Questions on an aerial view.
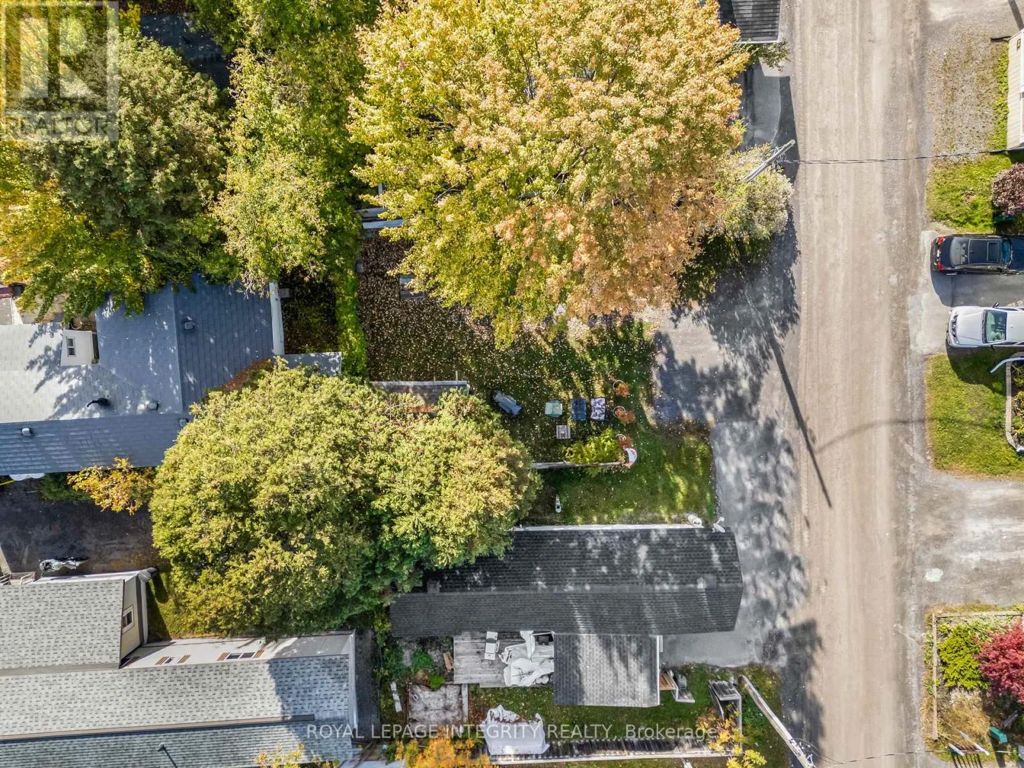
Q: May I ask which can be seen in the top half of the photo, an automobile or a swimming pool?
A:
automobile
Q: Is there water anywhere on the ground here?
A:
No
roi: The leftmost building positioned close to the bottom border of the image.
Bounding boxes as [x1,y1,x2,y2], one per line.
[0,578,364,768]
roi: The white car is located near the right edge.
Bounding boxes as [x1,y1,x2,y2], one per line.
[943,299,1024,354]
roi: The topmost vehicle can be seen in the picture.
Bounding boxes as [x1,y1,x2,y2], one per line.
[929,228,1024,281]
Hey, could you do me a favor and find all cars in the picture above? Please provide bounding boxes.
[943,299,1024,354]
[929,228,1024,281]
